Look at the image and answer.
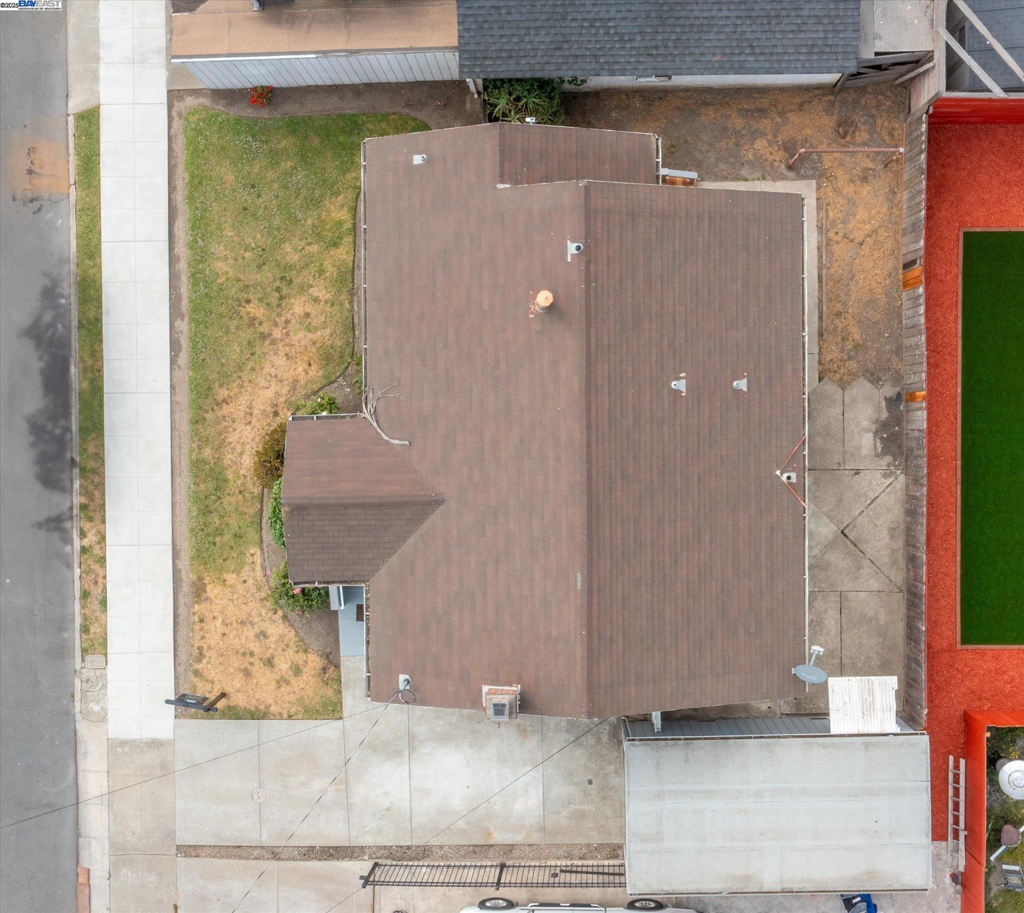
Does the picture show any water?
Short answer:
No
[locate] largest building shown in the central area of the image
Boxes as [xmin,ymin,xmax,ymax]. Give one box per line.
[282,121,811,719]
